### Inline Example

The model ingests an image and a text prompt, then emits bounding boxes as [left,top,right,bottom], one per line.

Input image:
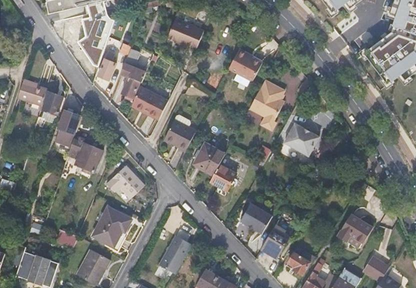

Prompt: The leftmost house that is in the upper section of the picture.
[18,79,48,116]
